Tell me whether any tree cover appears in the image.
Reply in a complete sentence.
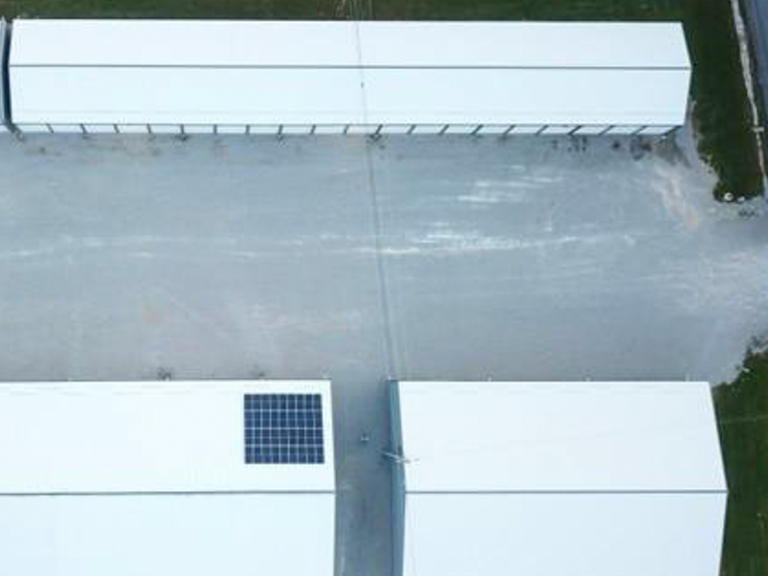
No, there is no tree cover in the image.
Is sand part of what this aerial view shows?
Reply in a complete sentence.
No, no sand is visible.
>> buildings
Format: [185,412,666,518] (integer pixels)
[391,379,727,576]
[8,18,690,139]
[0,379,336,576]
